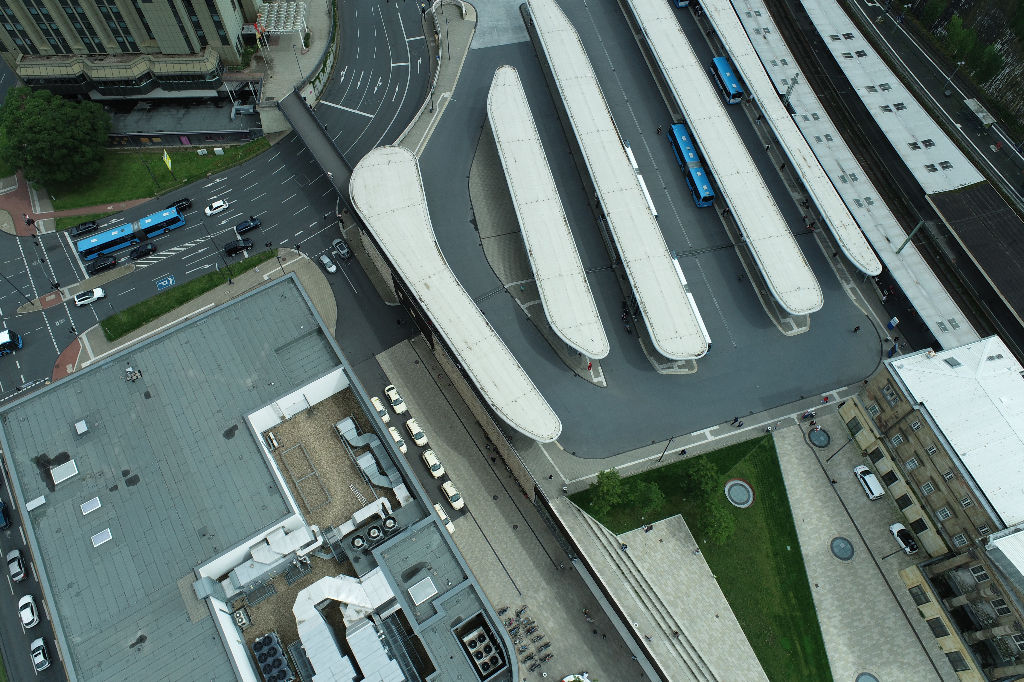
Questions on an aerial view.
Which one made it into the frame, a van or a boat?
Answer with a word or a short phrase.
van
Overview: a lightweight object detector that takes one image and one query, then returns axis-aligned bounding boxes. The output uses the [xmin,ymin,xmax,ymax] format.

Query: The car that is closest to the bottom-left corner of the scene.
[27,637,52,672]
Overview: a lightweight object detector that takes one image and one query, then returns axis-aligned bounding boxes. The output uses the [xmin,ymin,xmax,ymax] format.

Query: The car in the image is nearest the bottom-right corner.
[890,521,919,553]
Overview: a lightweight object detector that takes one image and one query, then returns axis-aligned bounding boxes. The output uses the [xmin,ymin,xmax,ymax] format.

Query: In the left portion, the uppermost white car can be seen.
[204,200,229,216]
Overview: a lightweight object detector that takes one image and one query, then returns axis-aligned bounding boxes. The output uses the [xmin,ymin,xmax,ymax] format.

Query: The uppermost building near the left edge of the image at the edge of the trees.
[0,0,272,108]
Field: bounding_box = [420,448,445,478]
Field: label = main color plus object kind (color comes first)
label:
white car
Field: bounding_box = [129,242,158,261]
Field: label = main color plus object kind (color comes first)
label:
black car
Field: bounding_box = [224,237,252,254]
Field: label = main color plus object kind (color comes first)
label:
black car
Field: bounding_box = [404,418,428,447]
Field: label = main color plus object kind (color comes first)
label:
white car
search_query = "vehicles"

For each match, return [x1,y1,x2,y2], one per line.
[234,218,260,234]
[166,196,193,209]
[78,205,187,257]
[890,521,919,553]
[129,242,158,261]
[372,397,390,423]
[224,237,252,254]
[15,594,40,629]
[0,498,11,528]
[390,426,408,454]
[420,448,445,478]
[434,500,455,531]
[70,218,98,236]
[73,287,105,306]
[4,548,28,580]
[204,200,229,216]
[27,637,52,672]
[384,386,407,414]
[439,480,465,511]
[404,418,428,447]
[333,238,351,258]
[855,464,887,499]
[317,253,335,272]
[87,255,116,275]
[0,329,23,356]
